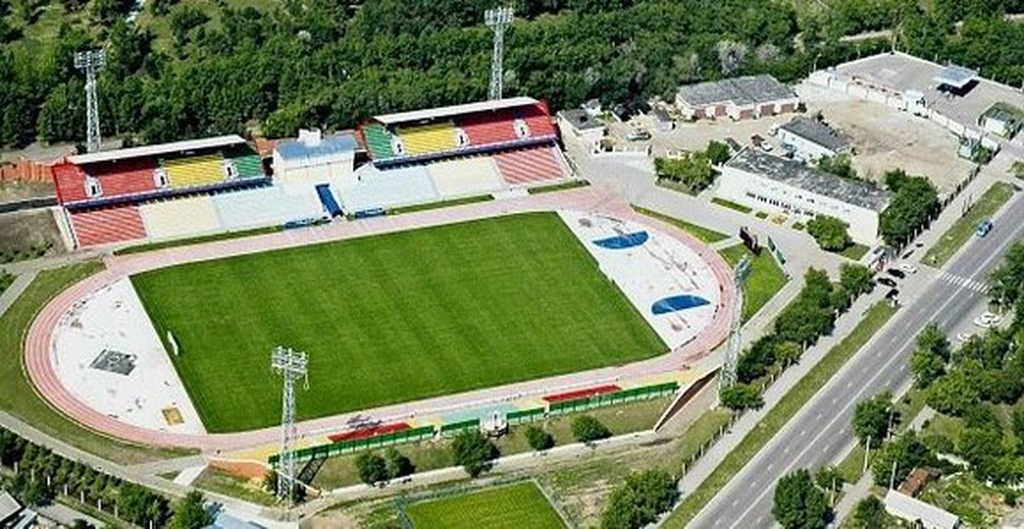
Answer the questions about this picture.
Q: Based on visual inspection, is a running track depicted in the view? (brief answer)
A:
Yes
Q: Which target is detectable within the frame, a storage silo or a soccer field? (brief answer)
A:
soccer field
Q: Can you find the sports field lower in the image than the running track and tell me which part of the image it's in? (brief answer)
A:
bottom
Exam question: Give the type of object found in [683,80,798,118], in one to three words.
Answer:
building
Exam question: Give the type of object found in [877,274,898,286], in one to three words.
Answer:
vehicle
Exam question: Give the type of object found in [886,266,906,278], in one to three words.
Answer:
vehicle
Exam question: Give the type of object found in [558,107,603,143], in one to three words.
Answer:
shed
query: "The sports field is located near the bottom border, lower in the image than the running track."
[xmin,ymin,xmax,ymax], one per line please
[412,481,568,529]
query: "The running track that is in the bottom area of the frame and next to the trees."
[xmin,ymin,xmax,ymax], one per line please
[22,202,745,451]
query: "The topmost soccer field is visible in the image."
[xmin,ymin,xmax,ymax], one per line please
[130,211,670,432]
